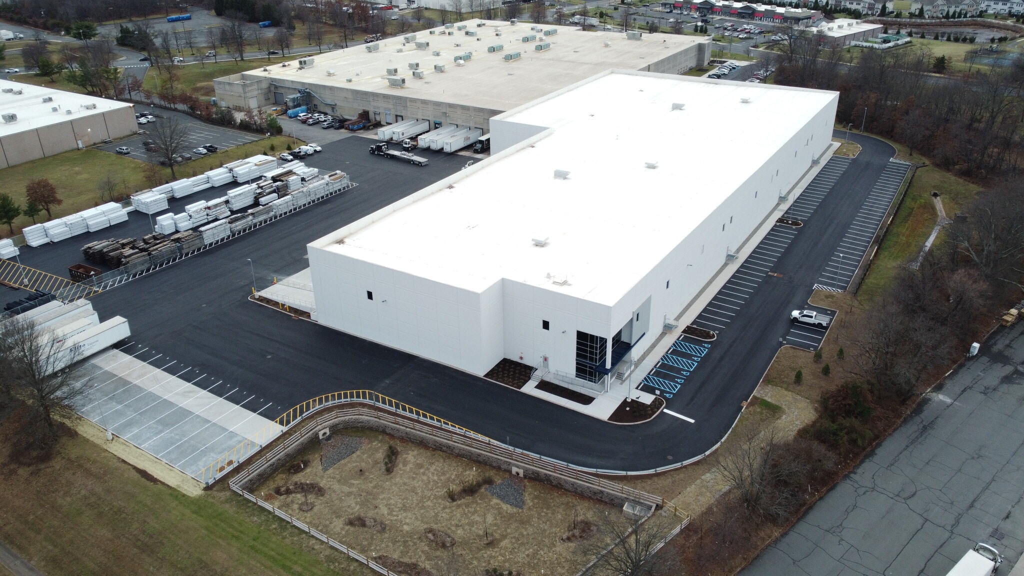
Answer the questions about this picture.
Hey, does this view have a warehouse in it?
Yes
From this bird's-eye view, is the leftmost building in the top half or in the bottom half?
top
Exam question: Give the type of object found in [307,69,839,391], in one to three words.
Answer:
warehouse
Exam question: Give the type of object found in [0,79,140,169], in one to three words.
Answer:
building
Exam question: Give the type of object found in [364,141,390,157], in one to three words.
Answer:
vehicle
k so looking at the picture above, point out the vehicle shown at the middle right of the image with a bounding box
[789,311,831,331]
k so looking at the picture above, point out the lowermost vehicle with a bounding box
[949,546,1001,576]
